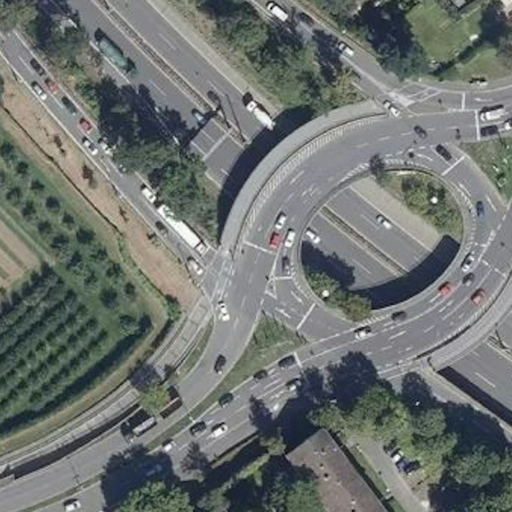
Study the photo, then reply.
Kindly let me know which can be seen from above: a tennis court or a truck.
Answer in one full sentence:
I can see a truck in this picture.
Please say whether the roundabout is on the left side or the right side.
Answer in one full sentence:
It is on the right.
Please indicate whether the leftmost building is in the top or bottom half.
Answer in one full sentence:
You can find the leftmost building in the bottom half.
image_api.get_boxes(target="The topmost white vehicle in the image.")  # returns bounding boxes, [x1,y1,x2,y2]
[266,0,291,23]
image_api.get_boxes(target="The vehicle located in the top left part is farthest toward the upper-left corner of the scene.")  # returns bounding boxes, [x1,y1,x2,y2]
[29,56,44,74]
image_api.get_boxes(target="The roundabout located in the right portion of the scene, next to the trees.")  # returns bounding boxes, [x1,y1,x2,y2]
[212,109,512,378]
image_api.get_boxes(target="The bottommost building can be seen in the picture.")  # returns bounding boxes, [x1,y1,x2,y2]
[286,429,389,512]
